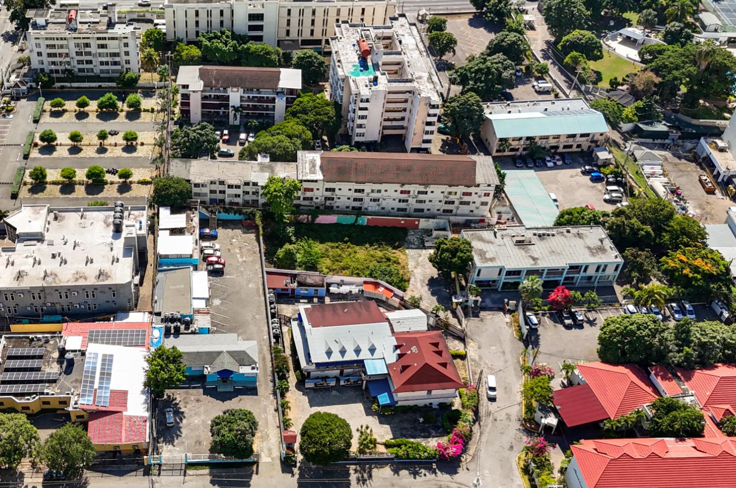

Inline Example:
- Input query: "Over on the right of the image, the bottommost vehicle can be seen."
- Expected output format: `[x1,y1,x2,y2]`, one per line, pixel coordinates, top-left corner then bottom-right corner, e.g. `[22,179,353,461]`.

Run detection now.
[484,373,500,398]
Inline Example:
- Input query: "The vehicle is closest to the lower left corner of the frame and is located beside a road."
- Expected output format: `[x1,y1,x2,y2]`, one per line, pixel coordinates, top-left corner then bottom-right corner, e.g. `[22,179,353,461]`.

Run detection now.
[41,469,68,482]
